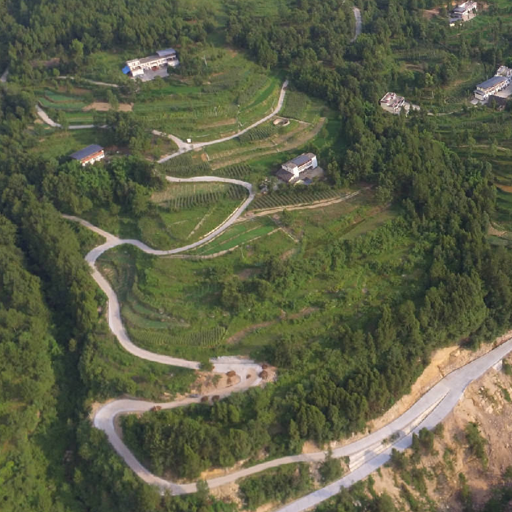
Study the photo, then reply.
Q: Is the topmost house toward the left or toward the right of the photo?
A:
right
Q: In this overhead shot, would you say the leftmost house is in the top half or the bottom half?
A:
top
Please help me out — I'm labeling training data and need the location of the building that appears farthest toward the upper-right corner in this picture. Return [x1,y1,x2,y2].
[446,2,475,24]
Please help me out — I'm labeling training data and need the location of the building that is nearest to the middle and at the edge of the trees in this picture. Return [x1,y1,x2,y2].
[268,150,315,187]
